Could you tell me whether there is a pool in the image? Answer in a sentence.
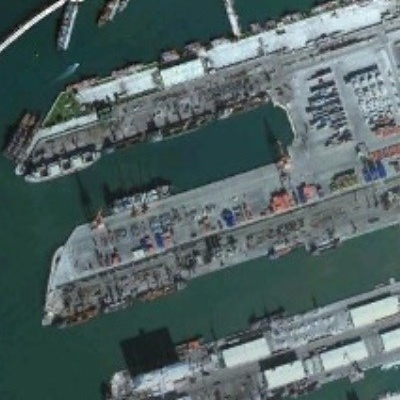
No, no pool is visible in the scene.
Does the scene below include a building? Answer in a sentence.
Yes, there is a building in the image.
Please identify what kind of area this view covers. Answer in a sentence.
This image shows a port.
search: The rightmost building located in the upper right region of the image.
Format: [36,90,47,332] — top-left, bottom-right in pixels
[345,1,384,26]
